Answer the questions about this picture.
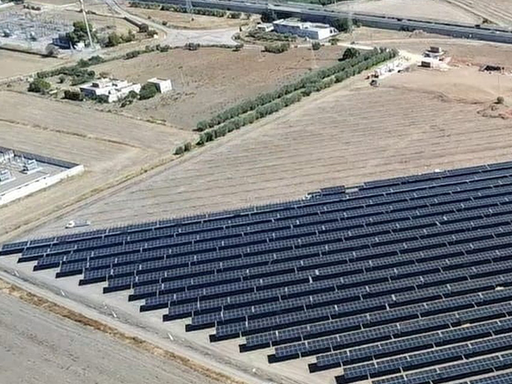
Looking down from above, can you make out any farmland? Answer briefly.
Yes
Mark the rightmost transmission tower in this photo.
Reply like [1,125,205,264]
[342,4,355,32]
